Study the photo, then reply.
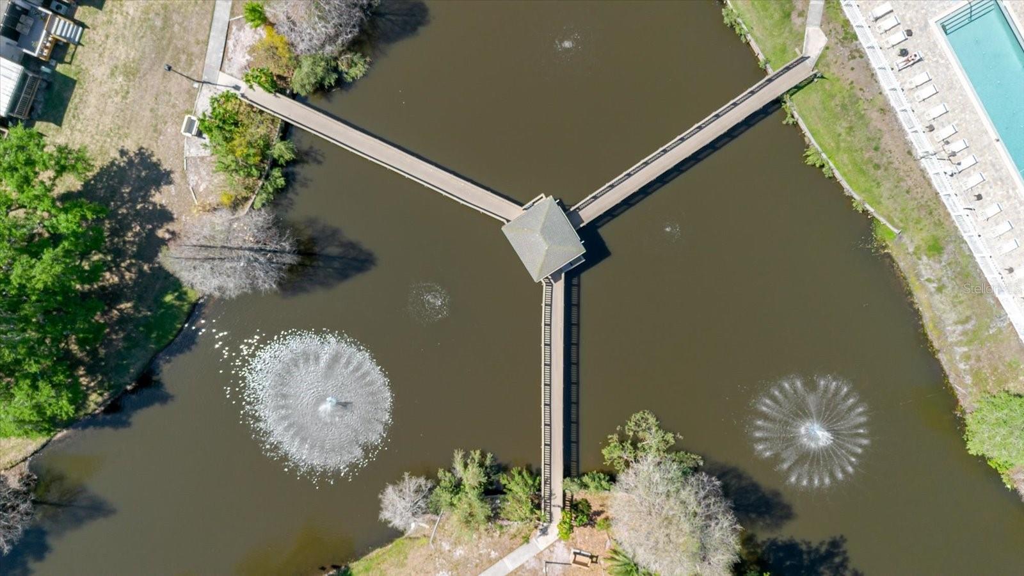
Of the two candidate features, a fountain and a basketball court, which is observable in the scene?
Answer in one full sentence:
Of the two, only a fountain appears.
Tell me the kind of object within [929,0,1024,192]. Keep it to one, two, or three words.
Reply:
swimming pool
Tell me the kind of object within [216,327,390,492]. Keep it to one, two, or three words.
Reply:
fountain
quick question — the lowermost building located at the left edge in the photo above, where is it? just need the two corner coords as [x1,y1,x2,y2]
[0,58,59,132]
